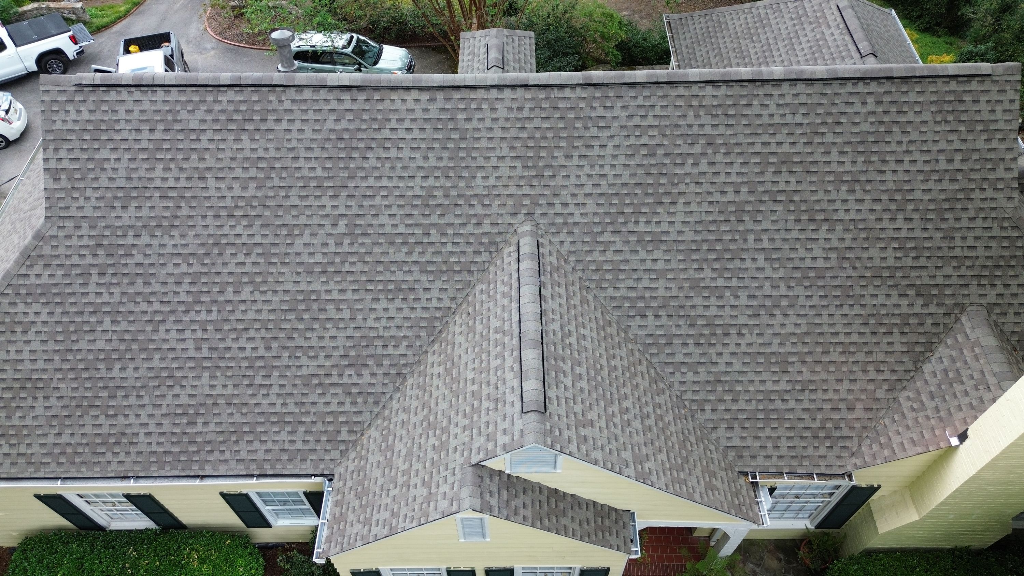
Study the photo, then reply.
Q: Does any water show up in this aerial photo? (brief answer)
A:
No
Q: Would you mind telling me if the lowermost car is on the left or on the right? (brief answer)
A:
left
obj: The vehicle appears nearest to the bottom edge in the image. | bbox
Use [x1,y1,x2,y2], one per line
[0,91,30,152]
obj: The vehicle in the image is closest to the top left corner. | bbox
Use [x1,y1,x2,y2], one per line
[0,5,94,88]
